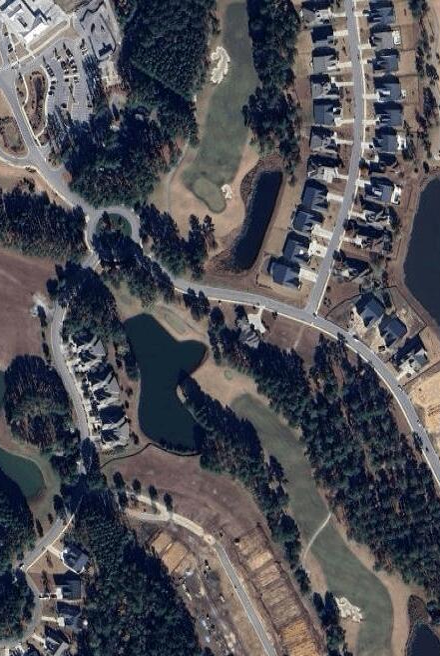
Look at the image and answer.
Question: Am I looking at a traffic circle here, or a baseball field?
traffic circle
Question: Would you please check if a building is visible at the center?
Yes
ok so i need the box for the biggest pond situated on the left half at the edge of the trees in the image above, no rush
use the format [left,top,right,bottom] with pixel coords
[125,313,206,456]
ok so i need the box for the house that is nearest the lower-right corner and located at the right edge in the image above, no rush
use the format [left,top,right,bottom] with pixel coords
[399,336,430,368]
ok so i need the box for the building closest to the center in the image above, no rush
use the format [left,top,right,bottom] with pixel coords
[234,311,262,348]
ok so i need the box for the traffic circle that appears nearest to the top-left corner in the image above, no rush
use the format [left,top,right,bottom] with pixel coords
[89,205,140,253]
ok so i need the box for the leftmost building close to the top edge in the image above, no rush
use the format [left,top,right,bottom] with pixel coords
[0,0,67,45]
